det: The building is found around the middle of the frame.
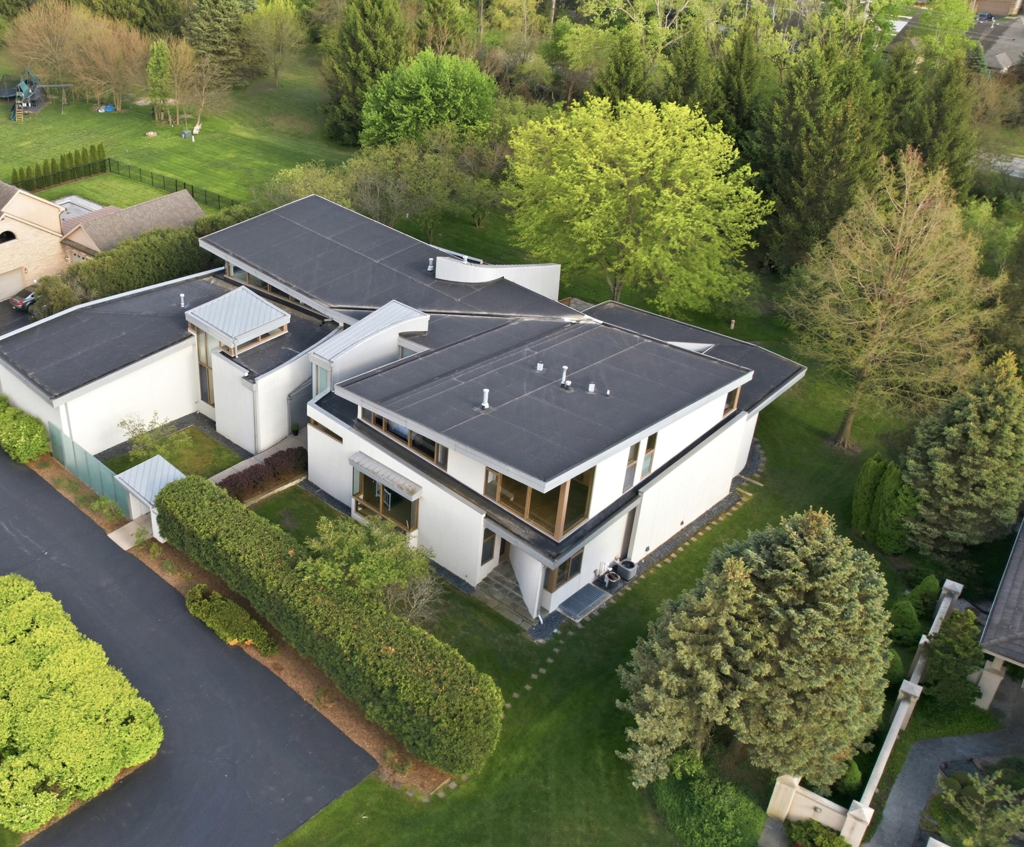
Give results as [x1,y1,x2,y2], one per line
[0,194,809,629]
